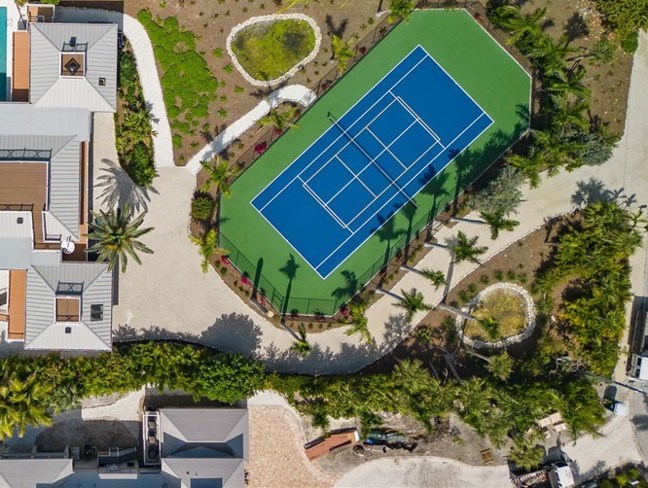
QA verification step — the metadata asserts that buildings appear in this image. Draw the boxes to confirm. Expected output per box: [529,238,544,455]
[0,408,248,488]
[0,2,117,351]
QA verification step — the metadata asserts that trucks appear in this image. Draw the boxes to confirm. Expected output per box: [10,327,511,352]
[502,454,581,488]
[624,303,648,379]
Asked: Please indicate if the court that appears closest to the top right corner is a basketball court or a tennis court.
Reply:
tennis court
